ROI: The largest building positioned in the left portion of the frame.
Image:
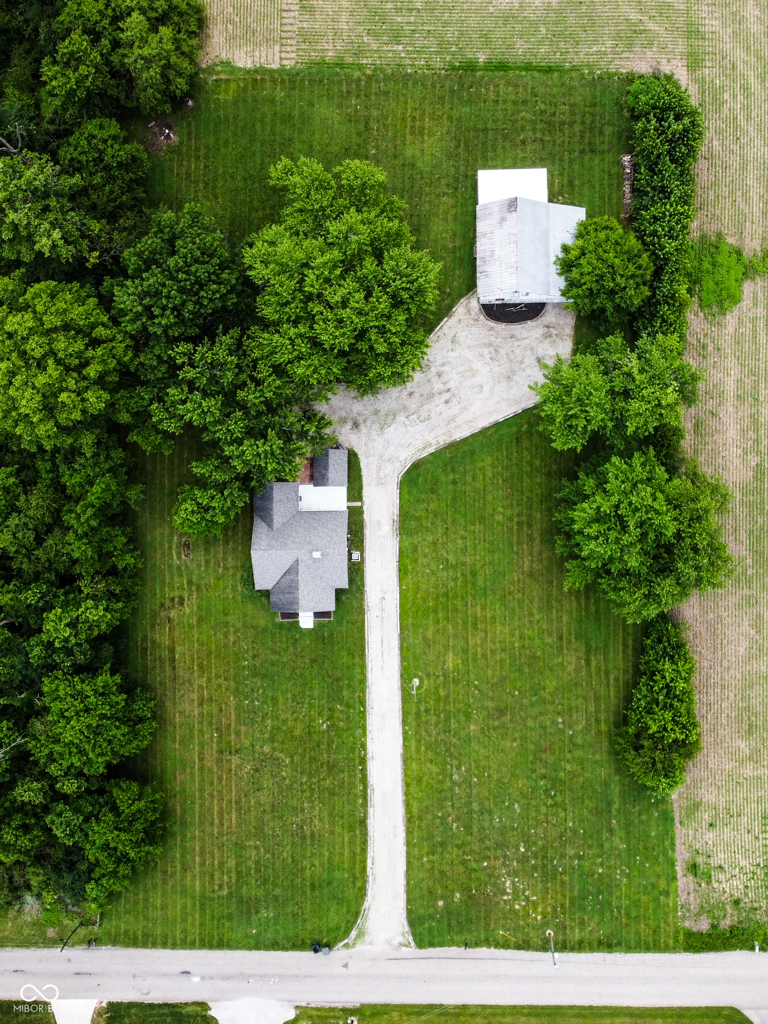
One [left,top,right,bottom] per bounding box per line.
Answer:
[251,482,350,613]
